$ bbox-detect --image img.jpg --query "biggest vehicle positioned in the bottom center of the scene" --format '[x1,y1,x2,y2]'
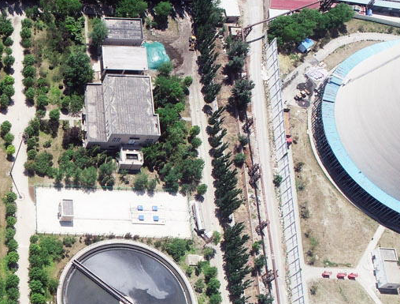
[189,201,210,243]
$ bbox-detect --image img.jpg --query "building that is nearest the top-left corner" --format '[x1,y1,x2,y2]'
[101,16,143,46]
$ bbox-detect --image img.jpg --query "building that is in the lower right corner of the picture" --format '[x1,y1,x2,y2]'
[371,248,400,289]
